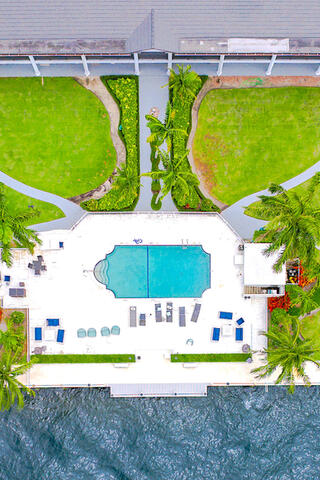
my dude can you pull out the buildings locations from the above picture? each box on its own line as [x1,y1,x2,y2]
[0,0,320,76]
[243,242,286,296]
